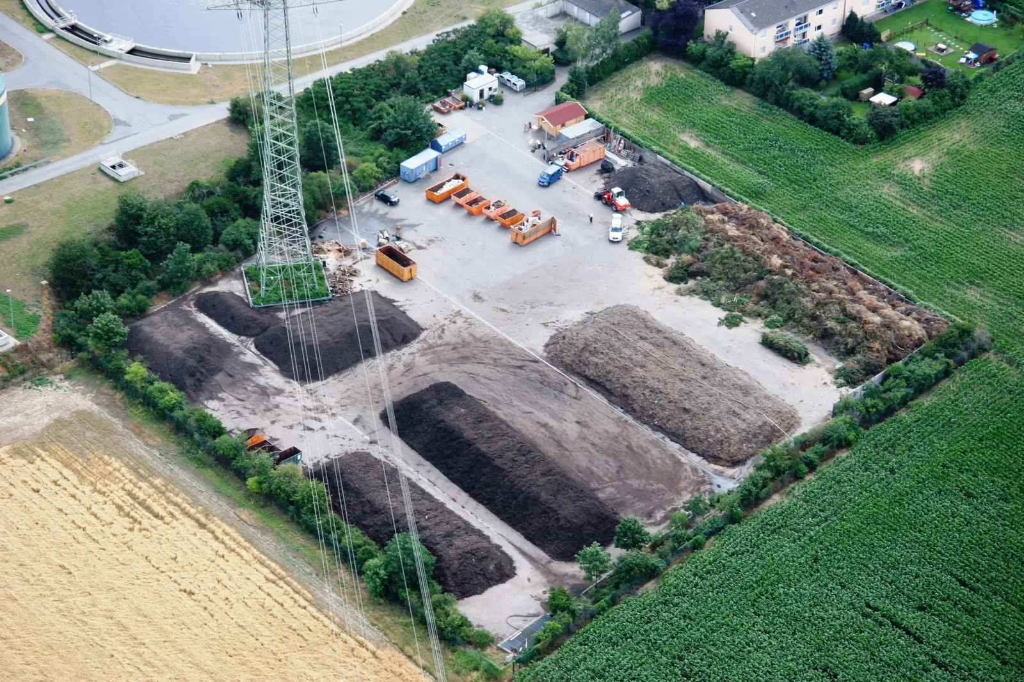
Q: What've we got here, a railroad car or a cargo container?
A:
cargo container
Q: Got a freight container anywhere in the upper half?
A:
Yes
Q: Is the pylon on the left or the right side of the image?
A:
left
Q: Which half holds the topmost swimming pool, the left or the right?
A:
right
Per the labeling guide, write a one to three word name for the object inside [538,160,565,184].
vehicle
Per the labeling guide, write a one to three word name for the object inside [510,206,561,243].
shipping container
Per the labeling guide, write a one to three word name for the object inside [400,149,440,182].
shipping container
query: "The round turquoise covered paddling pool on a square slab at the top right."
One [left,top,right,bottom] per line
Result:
[961,8,1005,29]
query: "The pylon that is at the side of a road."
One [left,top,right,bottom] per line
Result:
[198,0,341,299]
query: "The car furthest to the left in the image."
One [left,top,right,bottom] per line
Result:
[373,188,402,204]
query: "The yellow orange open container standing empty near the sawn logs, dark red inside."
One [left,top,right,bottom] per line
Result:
[375,243,416,278]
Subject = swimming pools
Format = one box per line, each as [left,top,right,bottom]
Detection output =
[893,40,916,54]
[961,8,1005,29]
